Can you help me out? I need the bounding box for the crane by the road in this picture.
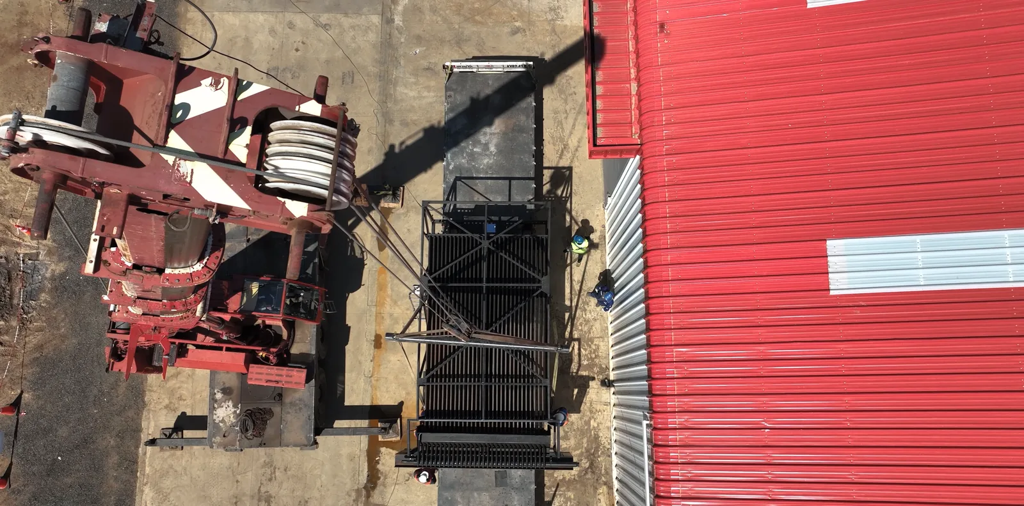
[0,0,397,454]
